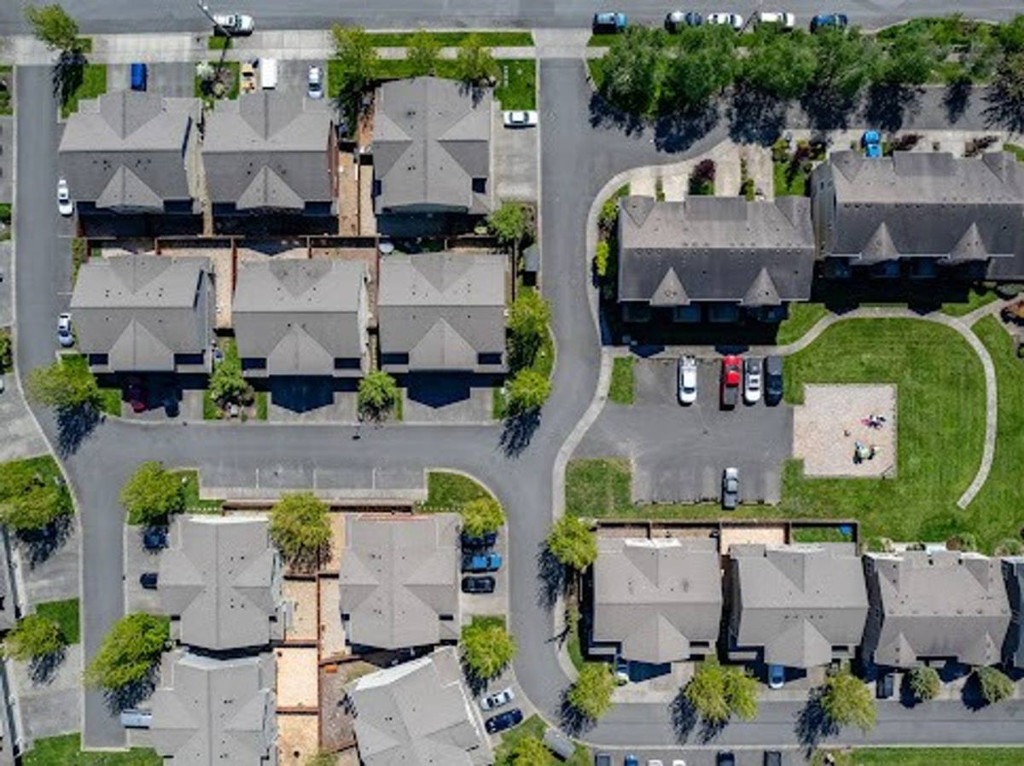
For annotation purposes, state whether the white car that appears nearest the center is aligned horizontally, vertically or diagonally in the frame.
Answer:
vertically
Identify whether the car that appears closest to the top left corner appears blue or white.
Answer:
blue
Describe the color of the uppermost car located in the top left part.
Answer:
white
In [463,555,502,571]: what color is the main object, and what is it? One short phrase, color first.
blue vehicle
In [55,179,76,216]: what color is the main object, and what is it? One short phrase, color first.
white car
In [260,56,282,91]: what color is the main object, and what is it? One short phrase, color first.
white trailer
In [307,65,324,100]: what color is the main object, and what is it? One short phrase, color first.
white car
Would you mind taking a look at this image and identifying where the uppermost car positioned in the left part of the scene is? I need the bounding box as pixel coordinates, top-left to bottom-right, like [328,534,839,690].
[213,13,253,33]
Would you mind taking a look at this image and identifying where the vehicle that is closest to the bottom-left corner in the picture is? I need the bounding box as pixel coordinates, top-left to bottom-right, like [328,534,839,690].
[121,709,153,728]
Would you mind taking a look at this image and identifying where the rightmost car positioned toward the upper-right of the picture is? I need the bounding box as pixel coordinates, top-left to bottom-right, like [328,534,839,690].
[862,128,880,157]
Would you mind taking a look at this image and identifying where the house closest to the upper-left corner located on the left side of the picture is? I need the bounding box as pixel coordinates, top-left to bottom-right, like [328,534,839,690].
[58,89,209,220]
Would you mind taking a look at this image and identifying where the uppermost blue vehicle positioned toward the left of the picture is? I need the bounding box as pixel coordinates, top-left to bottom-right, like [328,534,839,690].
[128,58,149,93]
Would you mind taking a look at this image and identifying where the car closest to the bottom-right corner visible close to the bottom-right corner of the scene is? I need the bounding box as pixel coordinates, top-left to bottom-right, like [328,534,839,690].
[877,668,893,700]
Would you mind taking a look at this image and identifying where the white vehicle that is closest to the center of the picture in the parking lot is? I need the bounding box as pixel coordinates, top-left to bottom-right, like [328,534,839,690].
[677,359,698,402]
